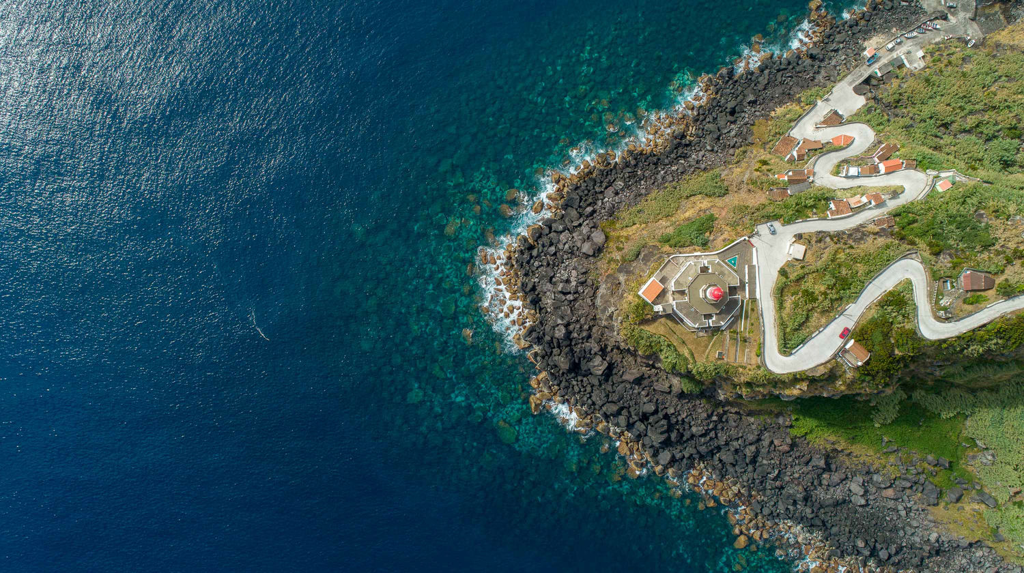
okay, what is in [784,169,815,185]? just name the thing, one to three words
house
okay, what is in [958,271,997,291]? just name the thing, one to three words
house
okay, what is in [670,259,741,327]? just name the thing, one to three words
lighthouse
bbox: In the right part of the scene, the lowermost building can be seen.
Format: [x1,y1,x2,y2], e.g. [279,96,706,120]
[837,341,871,367]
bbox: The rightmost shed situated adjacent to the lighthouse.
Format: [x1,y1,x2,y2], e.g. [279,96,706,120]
[745,265,757,298]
